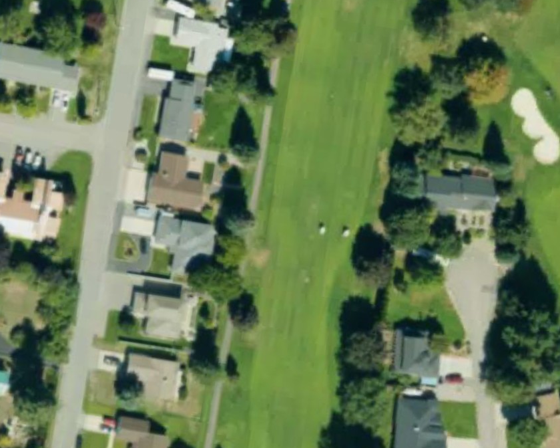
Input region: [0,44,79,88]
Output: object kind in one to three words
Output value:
house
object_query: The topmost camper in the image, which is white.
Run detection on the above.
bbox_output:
[165,0,195,17]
